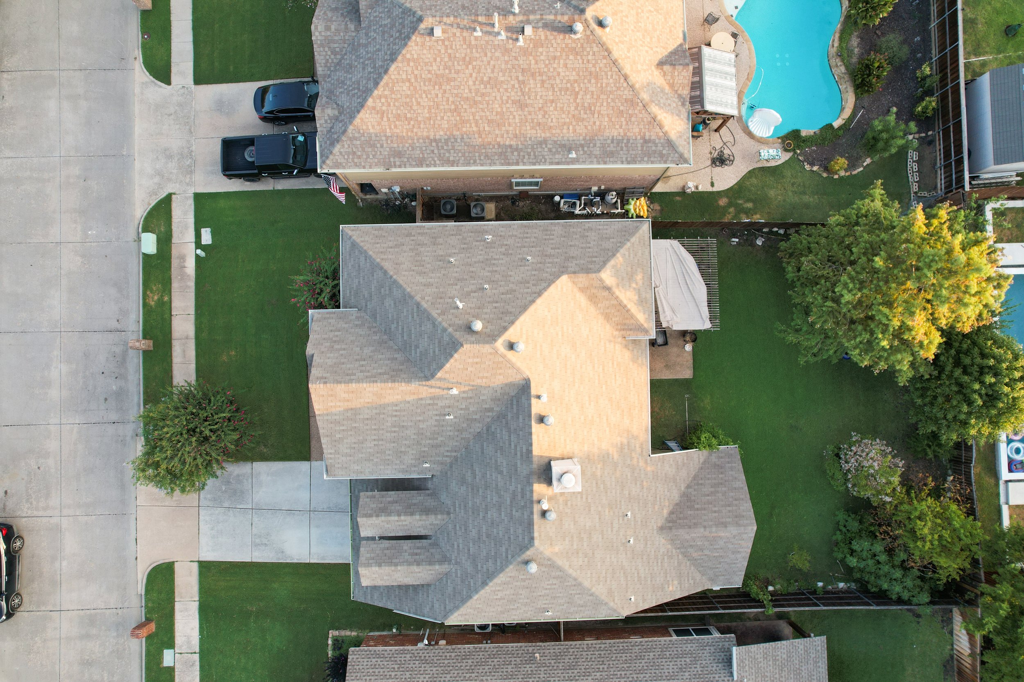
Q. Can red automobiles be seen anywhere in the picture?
No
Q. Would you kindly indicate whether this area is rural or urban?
urban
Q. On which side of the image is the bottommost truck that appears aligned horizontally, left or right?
left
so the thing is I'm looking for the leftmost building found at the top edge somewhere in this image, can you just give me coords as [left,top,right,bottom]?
[311,0,694,214]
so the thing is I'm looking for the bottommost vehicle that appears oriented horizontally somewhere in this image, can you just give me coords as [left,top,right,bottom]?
[221,131,333,180]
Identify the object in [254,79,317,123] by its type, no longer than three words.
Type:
car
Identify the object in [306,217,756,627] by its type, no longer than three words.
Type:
house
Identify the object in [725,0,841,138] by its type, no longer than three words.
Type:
swimming pool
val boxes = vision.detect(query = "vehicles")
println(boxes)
[254,79,317,123]
[0,525,24,621]
[221,131,333,180]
